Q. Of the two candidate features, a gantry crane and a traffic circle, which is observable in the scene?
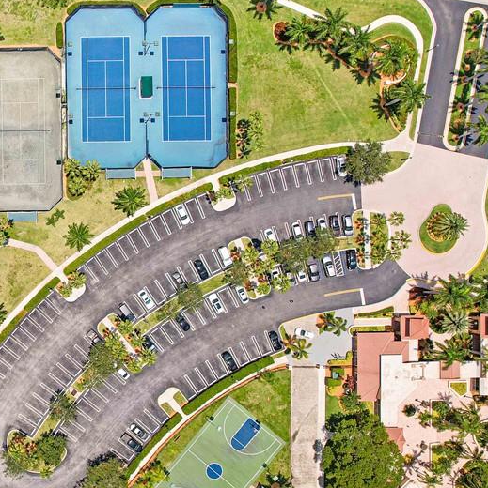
traffic circle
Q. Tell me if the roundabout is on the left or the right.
right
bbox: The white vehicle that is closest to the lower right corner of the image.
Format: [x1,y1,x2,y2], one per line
[291,326,317,341]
